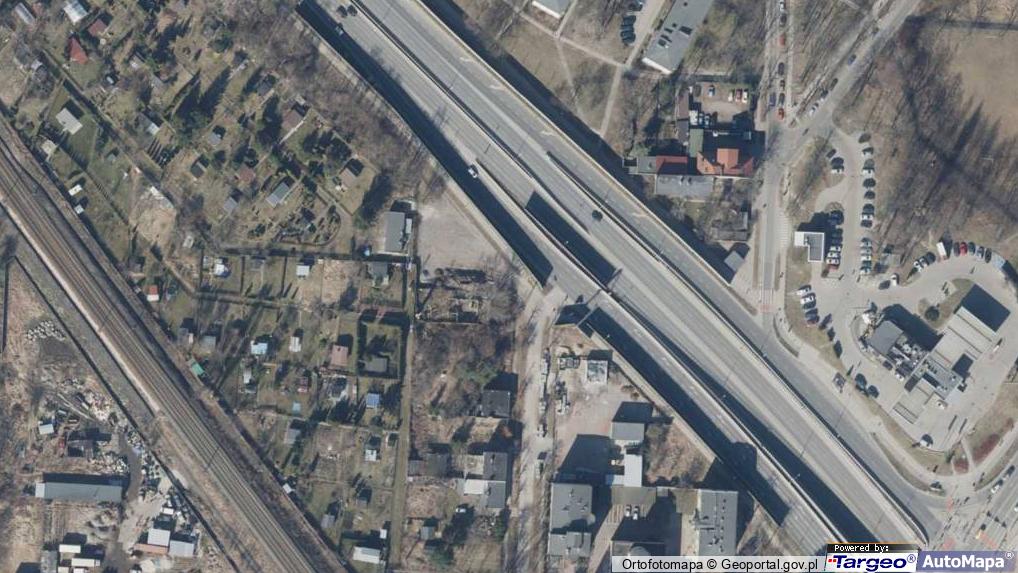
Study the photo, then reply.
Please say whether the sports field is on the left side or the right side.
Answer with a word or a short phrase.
right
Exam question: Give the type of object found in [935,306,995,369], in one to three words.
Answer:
building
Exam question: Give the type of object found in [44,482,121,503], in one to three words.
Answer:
building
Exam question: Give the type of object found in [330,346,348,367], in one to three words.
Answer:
house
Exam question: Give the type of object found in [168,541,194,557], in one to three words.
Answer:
shed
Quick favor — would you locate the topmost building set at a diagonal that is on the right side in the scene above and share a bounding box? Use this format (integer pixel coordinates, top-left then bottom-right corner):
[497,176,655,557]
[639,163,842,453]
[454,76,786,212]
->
[642,0,714,74]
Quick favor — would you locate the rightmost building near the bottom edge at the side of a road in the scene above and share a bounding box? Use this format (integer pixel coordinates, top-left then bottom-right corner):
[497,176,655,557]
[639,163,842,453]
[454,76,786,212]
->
[694,491,738,573]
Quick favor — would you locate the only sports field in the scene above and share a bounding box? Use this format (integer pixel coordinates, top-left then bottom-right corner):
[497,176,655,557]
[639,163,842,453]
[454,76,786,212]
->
[947,32,1018,146]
